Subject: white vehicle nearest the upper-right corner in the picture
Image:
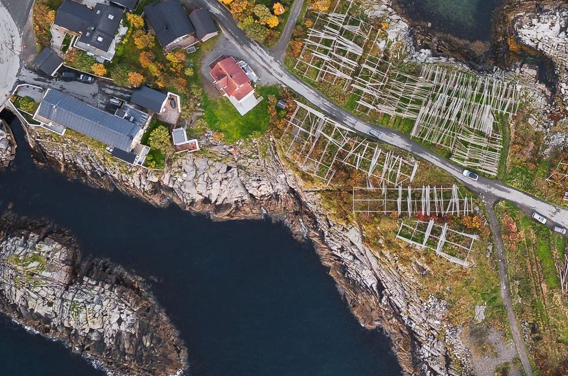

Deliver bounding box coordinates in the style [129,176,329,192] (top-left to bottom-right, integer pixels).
[461,169,480,182]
